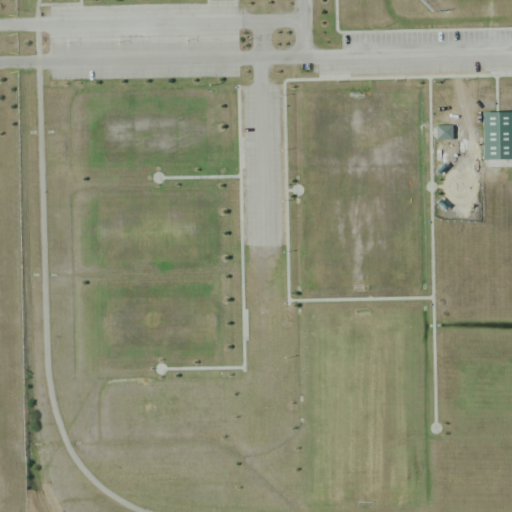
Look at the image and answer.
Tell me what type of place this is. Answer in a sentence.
The area seen from above is a sports ground.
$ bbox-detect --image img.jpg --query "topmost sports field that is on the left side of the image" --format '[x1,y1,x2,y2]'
[88,92,222,172]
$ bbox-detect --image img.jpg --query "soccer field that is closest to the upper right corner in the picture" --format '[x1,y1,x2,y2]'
[302,86,418,292]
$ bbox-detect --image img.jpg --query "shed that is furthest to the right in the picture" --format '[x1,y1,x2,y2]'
[484,110,512,158]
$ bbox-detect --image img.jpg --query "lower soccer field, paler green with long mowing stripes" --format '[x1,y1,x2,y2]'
[304,306,422,506]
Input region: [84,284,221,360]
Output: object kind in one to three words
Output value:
sports field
